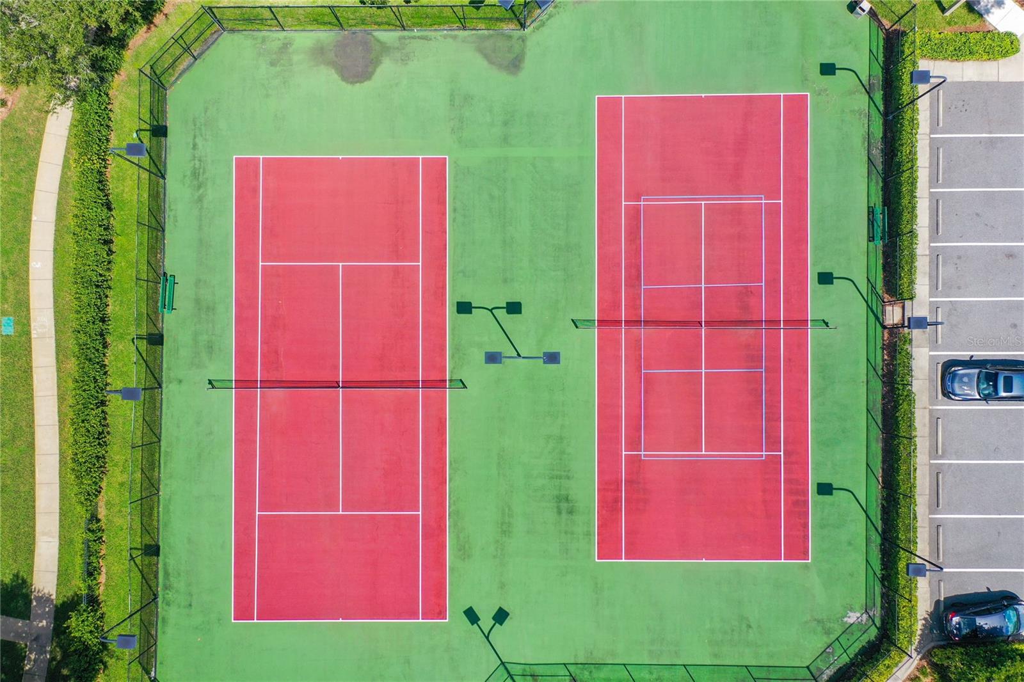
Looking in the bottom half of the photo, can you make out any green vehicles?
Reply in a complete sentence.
No, there is no green vehicle in the bottom half of the photo.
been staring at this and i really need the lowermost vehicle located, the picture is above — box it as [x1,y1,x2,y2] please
[941,590,1024,638]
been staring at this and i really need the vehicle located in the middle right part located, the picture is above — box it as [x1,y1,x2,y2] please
[943,361,1024,406]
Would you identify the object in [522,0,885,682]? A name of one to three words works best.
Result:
tennis court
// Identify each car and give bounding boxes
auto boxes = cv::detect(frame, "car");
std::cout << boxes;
[941,590,1024,638]
[943,361,1024,406]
